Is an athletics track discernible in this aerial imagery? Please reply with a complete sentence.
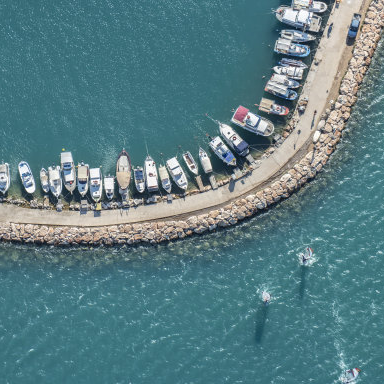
No, there is no athletics track in the image.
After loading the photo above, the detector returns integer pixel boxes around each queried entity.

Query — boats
[258,97,300,115]
[265,81,304,99]
[269,73,309,88]
[199,146,214,177]
[291,0,336,11]
[134,165,148,203]
[279,28,323,42]
[145,144,160,204]
[182,150,199,175]
[0,162,11,202]
[89,166,102,209]
[278,59,310,69]
[103,173,115,208]
[77,162,89,199]
[41,167,50,192]
[271,7,329,32]
[165,156,189,195]
[158,161,171,193]
[210,136,236,166]
[116,142,132,191]
[60,149,76,209]
[19,159,35,198]
[274,39,313,56]
[210,117,271,161]
[270,64,312,79]
[234,105,288,140]
[49,165,63,208]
